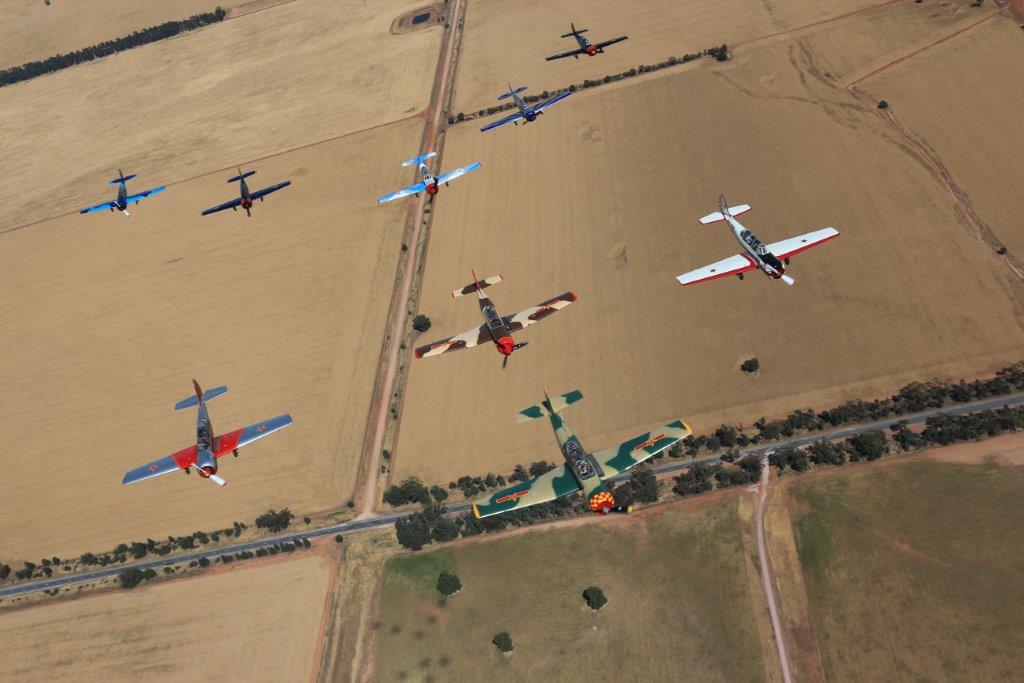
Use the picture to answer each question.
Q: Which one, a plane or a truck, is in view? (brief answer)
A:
plane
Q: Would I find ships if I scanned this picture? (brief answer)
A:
No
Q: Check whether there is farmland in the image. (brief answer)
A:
Yes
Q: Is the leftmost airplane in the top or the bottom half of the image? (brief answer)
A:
top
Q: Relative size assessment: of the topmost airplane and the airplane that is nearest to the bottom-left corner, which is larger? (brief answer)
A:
the airplane that is nearest to the bottom-left corner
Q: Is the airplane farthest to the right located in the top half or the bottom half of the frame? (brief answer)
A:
top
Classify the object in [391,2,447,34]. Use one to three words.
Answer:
dam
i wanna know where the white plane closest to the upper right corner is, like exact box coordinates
[677,192,841,285]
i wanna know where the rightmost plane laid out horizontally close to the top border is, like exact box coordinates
[545,22,628,61]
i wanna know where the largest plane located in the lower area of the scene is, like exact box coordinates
[473,381,692,520]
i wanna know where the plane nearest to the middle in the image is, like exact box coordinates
[415,268,577,370]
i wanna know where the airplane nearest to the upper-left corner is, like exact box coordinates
[80,168,165,215]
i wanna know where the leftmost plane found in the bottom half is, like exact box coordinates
[121,376,291,485]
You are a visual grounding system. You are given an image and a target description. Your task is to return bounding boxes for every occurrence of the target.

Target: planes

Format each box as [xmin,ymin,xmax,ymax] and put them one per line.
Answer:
[121,376,291,485]
[480,81,571,131]
[80,168,165,215]
[677,192,841,285]
[415,268,577,370]
[545,22,628,61]
[201,165,291,215]
[378,148,480,202]
[473,381,692,520]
